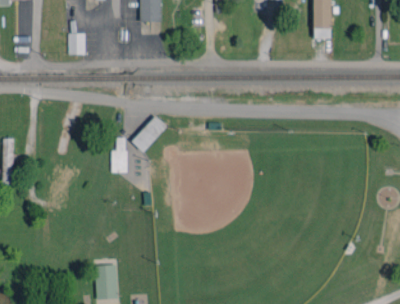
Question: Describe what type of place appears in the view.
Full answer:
This looks like a sports ground.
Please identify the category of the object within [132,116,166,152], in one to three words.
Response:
building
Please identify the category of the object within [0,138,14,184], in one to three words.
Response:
house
